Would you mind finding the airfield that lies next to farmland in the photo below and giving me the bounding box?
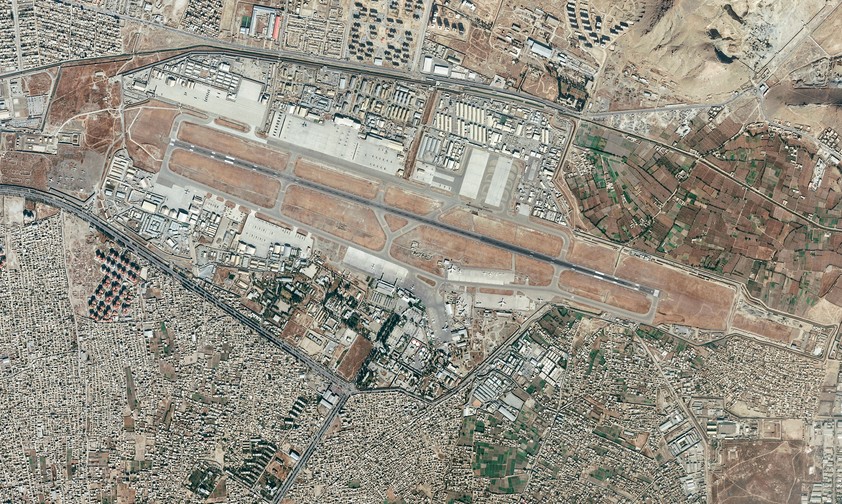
[125,72,830,356]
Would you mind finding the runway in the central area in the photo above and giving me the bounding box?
[170,138,659,297]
